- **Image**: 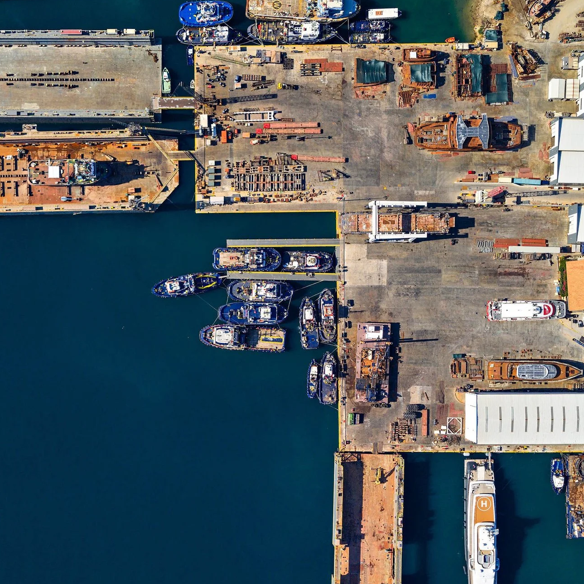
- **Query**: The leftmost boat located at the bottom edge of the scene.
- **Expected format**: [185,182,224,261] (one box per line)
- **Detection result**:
[462,452,499,584]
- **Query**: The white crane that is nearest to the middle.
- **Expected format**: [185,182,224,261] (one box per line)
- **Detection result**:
[361,200,427,246]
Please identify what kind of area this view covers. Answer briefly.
port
